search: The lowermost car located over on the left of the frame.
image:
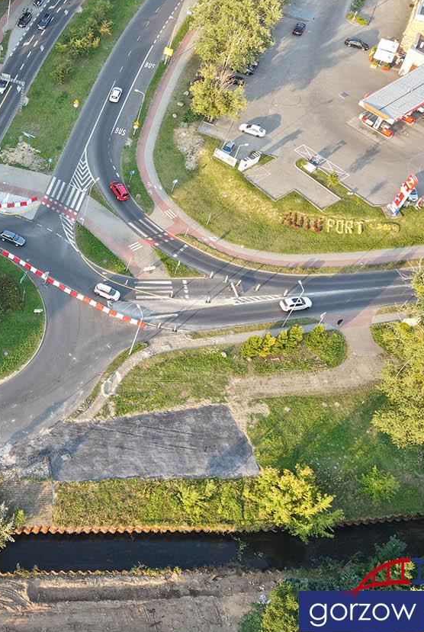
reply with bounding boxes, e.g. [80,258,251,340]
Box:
[92,282,121,304]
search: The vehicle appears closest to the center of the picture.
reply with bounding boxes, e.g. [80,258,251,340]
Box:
[279,298,312,314]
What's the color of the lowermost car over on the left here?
white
